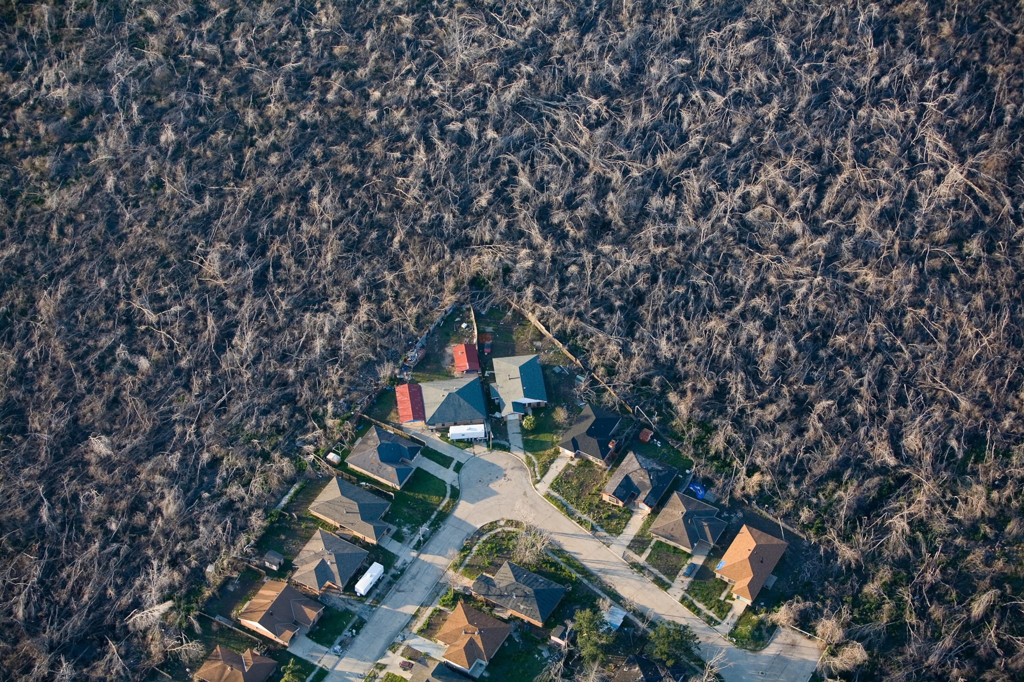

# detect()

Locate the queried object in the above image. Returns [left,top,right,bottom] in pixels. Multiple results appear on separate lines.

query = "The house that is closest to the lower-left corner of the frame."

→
[196,645,277,682]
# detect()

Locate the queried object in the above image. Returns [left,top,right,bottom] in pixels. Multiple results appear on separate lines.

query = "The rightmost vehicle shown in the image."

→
[682,561,698,578]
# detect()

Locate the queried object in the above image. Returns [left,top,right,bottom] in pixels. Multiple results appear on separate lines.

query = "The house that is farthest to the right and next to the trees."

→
[714,524,788,607]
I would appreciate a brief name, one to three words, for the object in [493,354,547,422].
house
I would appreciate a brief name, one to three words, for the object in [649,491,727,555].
house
